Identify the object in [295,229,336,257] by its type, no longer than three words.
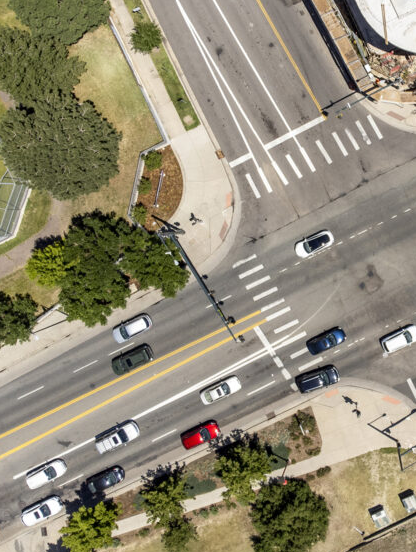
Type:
car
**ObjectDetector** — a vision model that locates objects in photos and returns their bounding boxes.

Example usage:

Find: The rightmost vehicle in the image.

[380,323,416,353]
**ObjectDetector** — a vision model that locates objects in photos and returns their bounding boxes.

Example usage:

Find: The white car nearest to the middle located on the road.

[113,312,155,341]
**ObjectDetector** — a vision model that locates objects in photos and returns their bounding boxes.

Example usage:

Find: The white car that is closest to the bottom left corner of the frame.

[21,494,64,525]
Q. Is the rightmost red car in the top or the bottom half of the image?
bottom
